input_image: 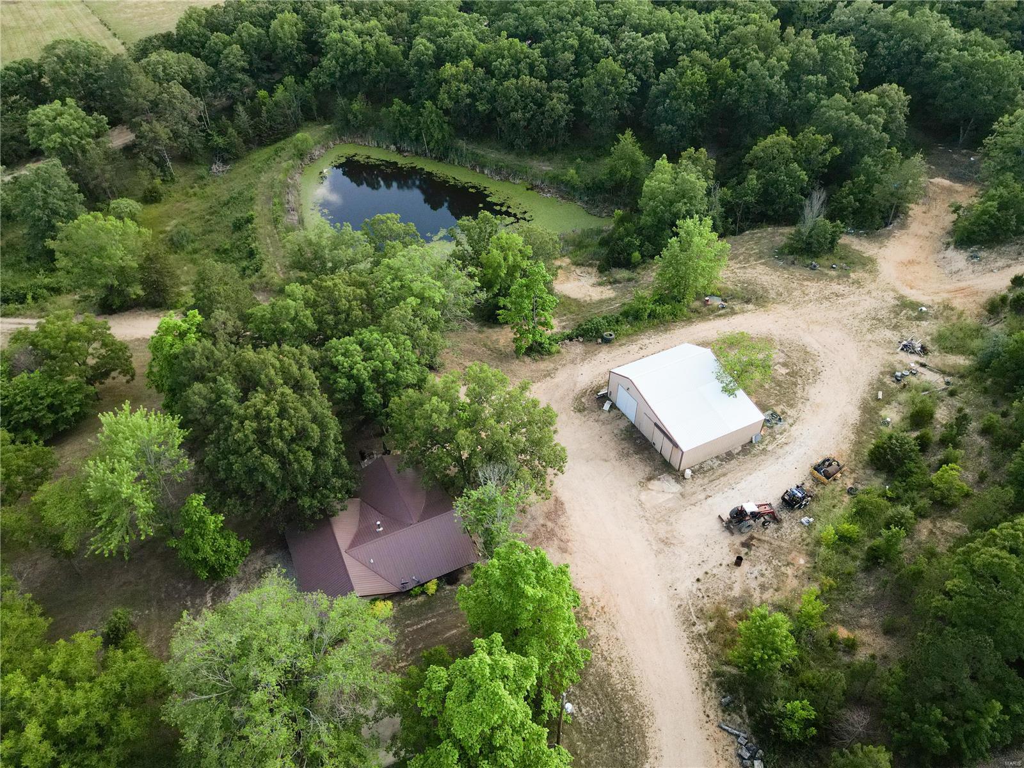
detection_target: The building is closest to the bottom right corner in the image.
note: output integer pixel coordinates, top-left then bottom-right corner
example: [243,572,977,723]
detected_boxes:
[607,343,767,474]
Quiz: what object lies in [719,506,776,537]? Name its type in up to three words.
work vehicle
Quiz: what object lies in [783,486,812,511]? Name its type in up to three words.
work vehicle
